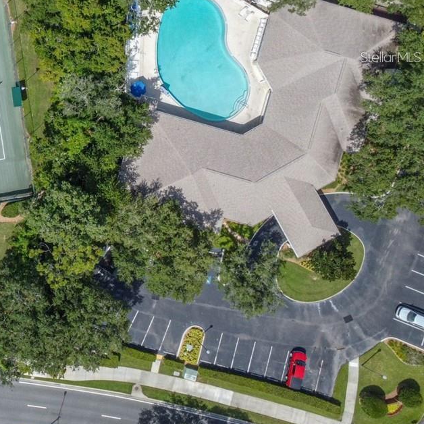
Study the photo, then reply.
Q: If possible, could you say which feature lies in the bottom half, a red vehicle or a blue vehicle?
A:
red vehicle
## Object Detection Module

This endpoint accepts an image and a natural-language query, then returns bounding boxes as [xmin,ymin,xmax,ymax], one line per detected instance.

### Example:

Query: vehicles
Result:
[286,349,308,390]
[393,307,424,328]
